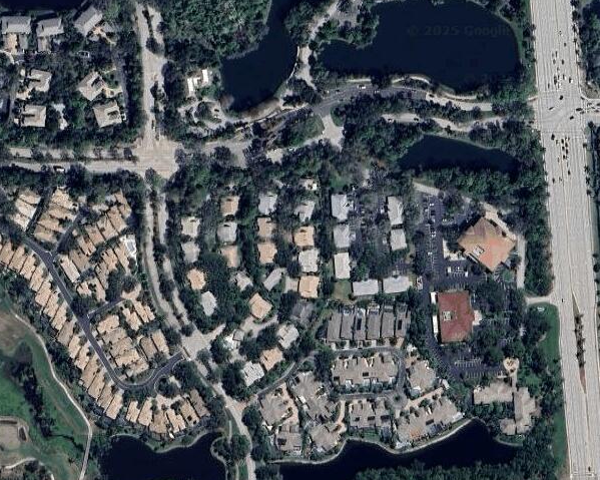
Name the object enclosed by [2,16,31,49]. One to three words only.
house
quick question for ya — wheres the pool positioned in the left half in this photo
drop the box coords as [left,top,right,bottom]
[124,237,142,262]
